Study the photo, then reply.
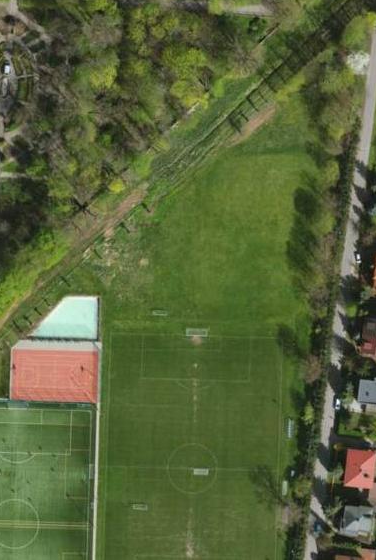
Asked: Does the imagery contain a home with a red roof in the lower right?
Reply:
Yes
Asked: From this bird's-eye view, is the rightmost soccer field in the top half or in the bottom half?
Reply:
bottom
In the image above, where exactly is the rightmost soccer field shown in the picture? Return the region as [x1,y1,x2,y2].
[97,327,289,560]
